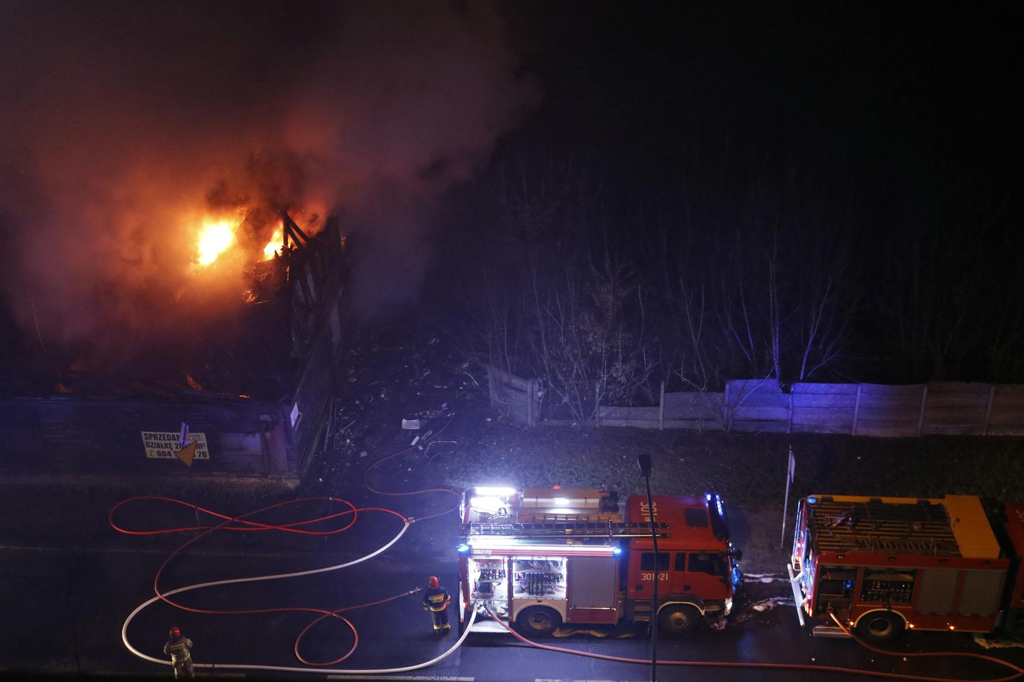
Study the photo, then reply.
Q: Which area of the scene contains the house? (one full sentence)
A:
Look in the left portion of the view to spot the house.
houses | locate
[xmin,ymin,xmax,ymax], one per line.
[0,196,350,480]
